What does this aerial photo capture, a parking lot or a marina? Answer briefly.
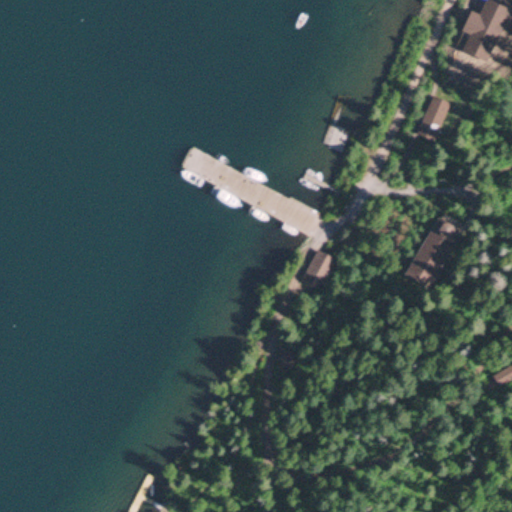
marina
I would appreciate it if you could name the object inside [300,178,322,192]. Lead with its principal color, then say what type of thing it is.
white boat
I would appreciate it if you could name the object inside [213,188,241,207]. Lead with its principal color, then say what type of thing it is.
white boat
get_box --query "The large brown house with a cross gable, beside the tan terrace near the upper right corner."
[462,0,512,62]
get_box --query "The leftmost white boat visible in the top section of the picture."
[182,172,206,188]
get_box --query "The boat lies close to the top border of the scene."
[297,12,309,28]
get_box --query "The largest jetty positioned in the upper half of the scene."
[184,148,321,234]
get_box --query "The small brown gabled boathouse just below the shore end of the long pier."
[308,250,332,279]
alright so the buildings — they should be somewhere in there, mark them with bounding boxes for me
[424,96,451,130]
[408,221,458,284]
[496,366,512,387]
[308,250,332,279]
[462,0,512,62]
